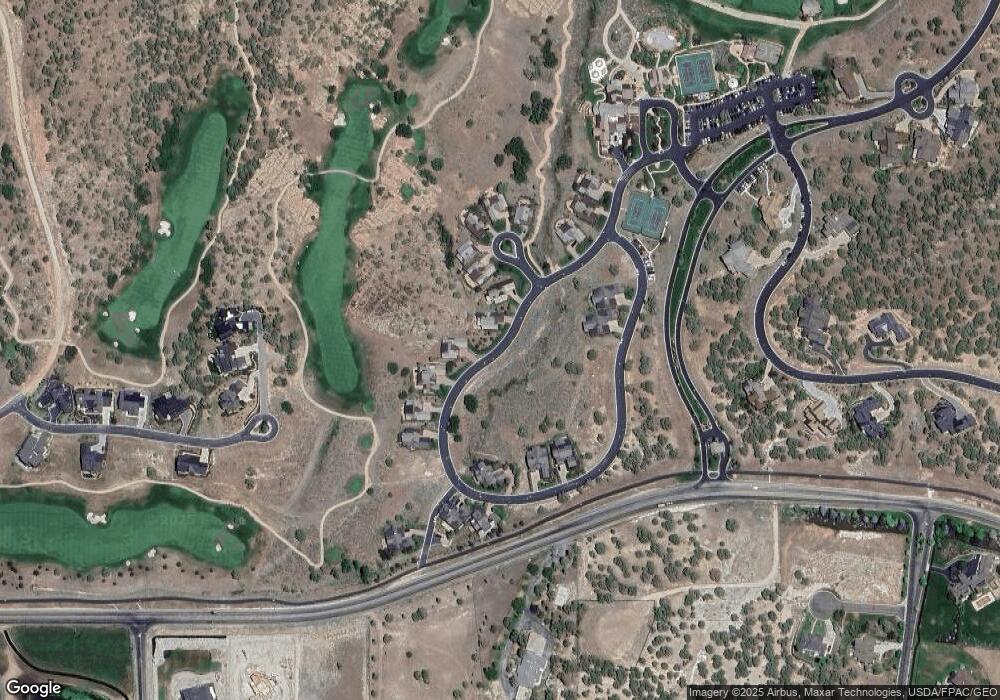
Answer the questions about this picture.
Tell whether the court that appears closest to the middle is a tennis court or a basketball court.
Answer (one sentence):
It turns out the court that appears closest to the middle is a tennis court.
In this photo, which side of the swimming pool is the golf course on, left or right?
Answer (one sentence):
Relative to the swimming pool, the golf course lies to the left.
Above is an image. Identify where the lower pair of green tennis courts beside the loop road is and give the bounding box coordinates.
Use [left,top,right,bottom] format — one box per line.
[622,191,671,239]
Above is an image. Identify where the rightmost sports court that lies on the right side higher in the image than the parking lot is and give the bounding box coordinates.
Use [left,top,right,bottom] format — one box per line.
[756,40,784,64]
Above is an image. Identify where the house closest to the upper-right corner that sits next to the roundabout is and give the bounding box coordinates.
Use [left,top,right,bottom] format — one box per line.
[949,77,979,108]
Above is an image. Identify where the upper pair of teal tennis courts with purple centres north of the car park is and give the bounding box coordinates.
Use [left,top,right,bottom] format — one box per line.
[676,51,717,95]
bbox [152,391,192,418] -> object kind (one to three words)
house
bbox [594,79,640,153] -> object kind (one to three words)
building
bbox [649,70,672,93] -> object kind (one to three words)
building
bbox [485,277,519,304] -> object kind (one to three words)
house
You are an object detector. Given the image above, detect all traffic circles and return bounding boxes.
[894,72,936,119]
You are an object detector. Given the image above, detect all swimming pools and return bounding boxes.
[643,26,681,51]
